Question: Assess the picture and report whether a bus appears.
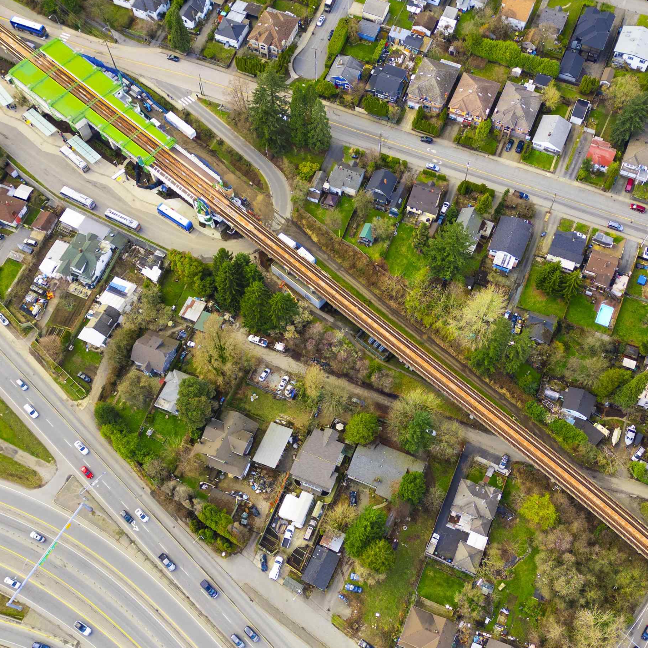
Yes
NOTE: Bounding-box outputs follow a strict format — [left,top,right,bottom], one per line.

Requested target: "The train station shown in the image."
[6,37,241,226]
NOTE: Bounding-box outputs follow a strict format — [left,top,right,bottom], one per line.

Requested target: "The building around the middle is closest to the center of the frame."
[267,262,328,313]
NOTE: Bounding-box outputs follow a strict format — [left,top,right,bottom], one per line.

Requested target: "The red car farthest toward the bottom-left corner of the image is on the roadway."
[78,464,95,481]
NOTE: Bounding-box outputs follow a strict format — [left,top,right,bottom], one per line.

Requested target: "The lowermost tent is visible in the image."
[280,492,314,528]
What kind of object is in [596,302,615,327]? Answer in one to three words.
swimming pool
